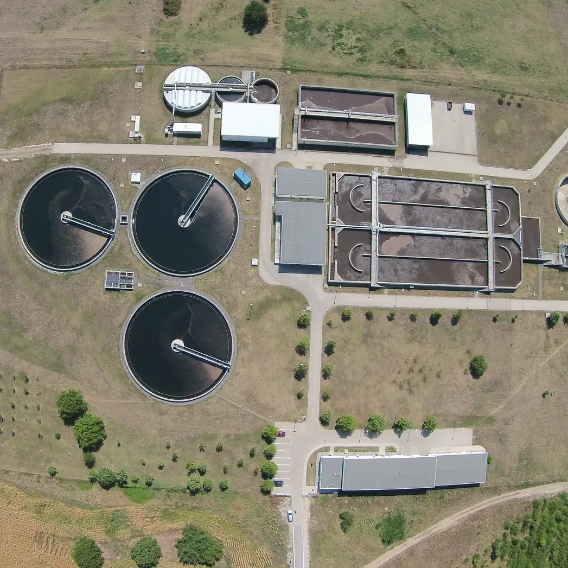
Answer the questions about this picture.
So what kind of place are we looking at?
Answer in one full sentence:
It's an industrial area.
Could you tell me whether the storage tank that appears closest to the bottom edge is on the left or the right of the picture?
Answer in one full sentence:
You can find the storage tank that appears closest to the bottom edge on the left side of the picture.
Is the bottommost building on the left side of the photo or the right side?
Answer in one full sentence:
It is on the right.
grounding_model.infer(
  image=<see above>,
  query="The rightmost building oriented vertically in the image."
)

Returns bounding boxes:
[404,93,432,148]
